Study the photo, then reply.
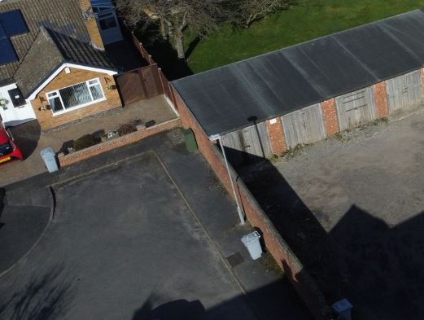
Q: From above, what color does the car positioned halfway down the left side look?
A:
red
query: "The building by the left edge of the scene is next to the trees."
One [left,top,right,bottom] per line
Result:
[0,0,127,131]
